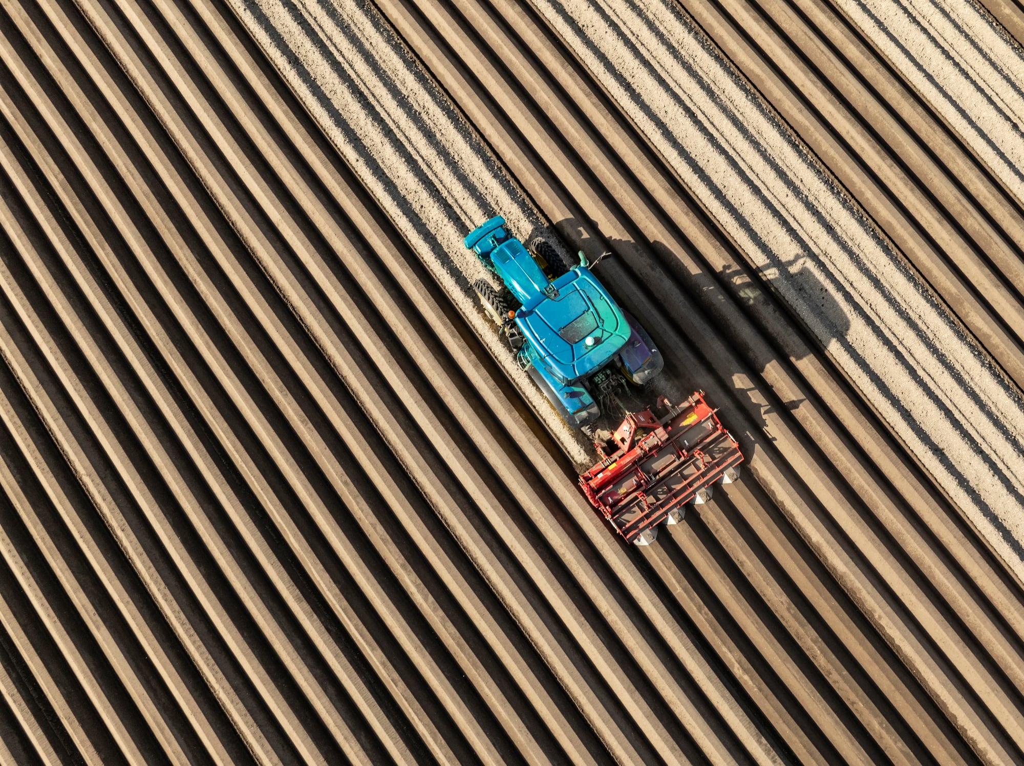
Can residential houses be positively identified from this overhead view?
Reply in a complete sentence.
No, this view has no residential house in it.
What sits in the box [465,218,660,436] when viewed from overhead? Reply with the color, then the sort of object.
blue work vehicle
